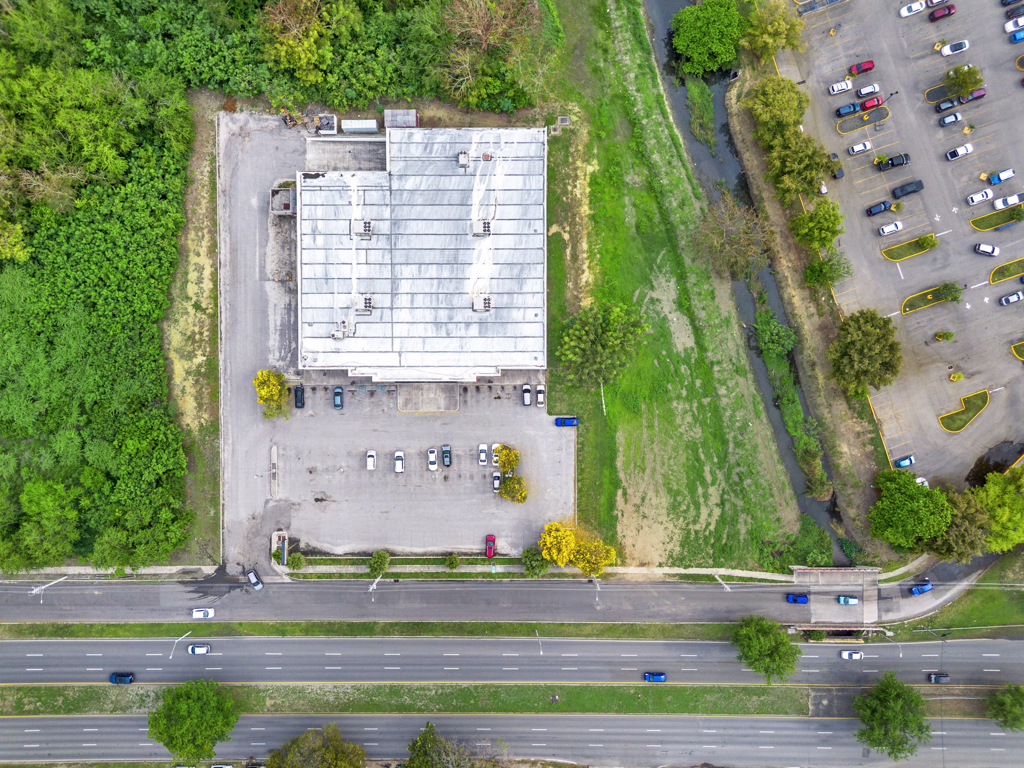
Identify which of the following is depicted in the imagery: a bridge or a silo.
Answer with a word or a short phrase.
bridge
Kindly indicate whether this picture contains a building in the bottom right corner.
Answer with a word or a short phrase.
No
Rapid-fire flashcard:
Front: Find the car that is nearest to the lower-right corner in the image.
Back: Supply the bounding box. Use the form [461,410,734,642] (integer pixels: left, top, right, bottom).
[928,672,951,685]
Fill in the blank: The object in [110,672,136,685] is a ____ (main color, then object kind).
blue vehicle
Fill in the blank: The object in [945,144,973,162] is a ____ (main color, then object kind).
white vehicle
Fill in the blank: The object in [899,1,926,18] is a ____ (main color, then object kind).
white car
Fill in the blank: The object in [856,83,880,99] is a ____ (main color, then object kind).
white car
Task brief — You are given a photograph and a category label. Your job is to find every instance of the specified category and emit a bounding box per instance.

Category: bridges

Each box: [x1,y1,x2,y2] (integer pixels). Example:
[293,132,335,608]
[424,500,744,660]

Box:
[792,564,884,638]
